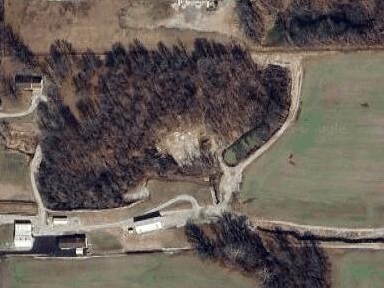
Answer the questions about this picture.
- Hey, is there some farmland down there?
Yes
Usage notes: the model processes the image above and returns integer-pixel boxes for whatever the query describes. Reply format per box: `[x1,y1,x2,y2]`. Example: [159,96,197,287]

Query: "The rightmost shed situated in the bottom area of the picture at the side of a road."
[133,213,164,233]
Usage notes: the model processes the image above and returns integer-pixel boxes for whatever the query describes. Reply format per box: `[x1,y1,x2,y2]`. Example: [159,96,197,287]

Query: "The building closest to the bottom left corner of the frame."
[15,223,32,247]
